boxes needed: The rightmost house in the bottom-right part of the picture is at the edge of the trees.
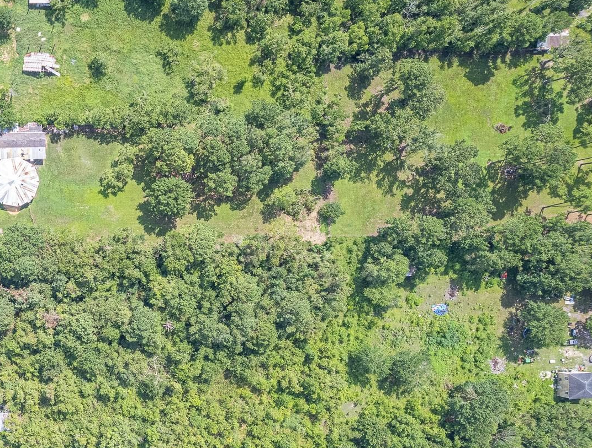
[558,372,592,399]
